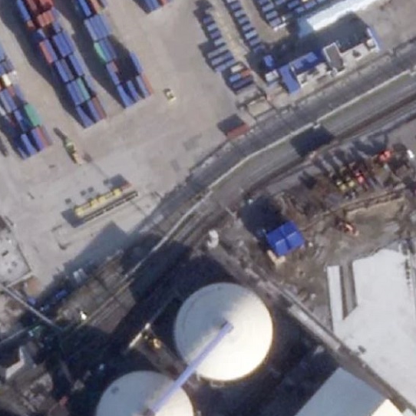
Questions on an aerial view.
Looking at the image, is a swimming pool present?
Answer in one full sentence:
No, the scene contains no swimming pool.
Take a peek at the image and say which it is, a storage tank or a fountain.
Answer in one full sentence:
The image shows a storage tank.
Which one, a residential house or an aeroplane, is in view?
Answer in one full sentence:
I can see a residential house in this picture.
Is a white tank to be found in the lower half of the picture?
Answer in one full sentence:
Yes, there is a white tank in the lower half of the picture.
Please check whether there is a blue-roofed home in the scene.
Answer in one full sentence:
Yes, there's a blue-roofed home down there.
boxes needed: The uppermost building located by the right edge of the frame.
[302,0,398,40]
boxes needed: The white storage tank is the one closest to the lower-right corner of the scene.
[173,284,276,387]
